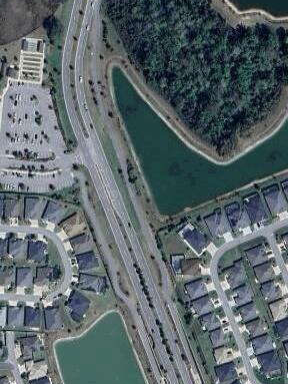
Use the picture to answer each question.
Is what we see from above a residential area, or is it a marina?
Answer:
residential area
